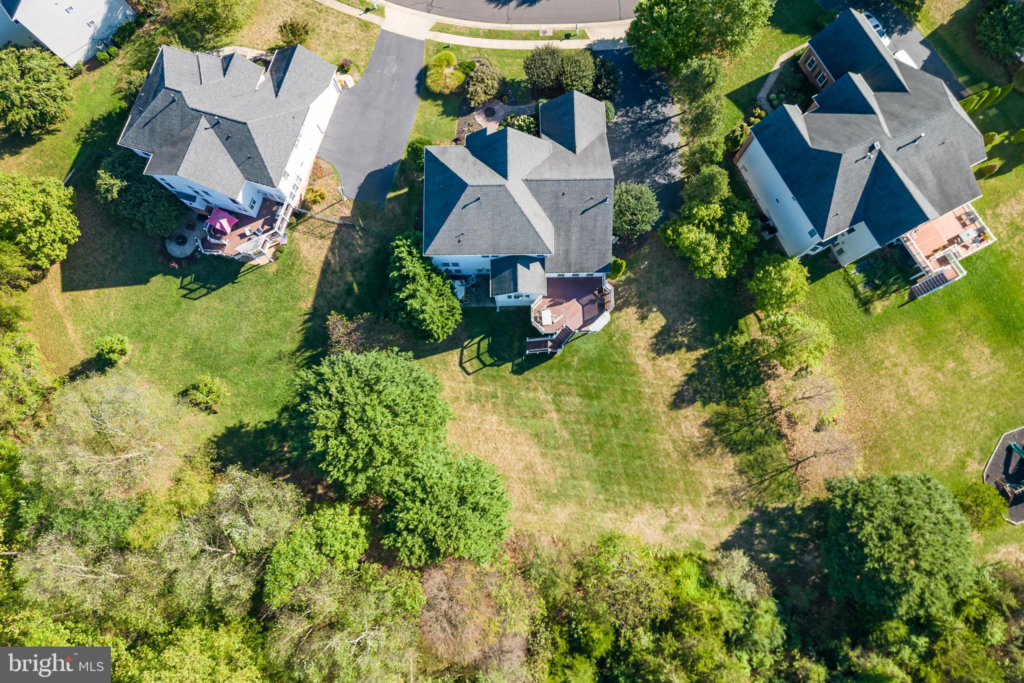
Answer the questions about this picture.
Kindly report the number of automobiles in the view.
2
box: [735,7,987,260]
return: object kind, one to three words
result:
house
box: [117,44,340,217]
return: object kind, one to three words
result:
house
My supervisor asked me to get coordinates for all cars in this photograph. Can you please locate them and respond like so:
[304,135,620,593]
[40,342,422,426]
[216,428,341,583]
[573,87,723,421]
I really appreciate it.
[864,10,895,45]
[893,44,923,71]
